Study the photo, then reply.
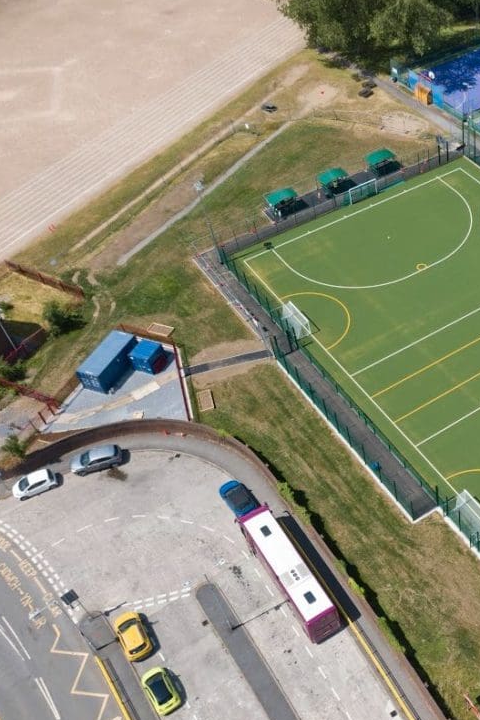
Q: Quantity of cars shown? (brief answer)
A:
5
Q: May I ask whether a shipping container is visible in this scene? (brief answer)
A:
Yes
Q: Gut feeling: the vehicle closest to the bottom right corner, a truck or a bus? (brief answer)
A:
bus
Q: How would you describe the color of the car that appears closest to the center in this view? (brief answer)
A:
blue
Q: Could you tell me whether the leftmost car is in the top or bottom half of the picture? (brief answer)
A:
bottom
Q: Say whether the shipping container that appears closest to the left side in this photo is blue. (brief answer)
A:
Yes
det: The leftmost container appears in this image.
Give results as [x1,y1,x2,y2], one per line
[76,330,138,393]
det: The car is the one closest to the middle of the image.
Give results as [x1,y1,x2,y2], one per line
[221,480,258,521]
